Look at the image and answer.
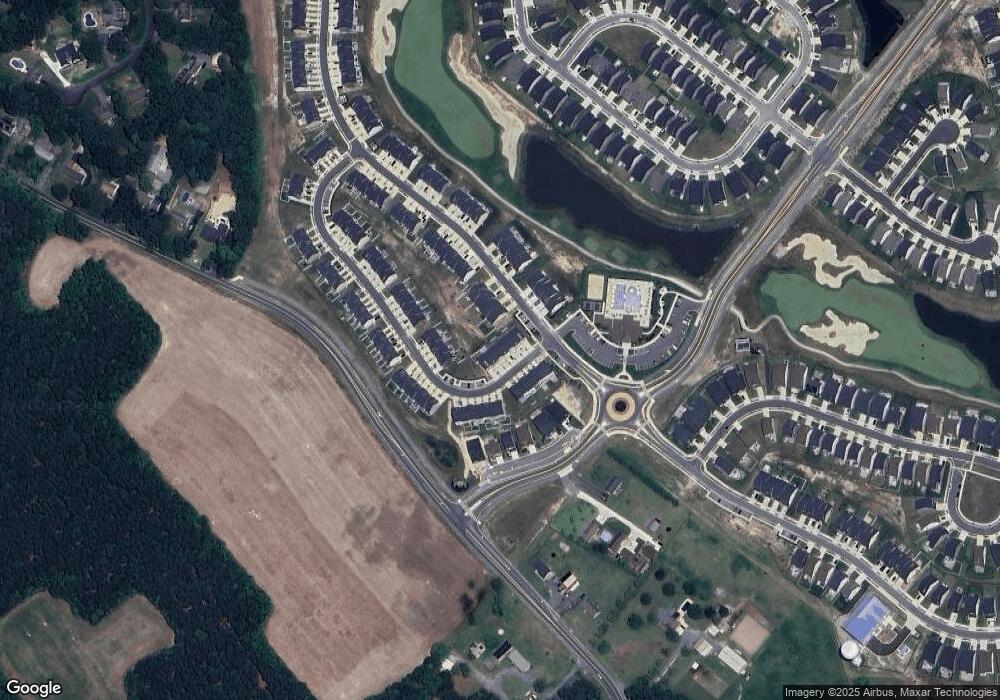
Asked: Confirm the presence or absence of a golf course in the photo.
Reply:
Yes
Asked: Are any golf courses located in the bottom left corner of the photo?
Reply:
No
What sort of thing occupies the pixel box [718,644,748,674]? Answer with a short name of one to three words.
barn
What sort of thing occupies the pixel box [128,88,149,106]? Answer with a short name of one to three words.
house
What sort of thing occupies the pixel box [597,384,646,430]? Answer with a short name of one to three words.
roundabout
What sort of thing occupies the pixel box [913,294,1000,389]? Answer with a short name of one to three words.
pond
